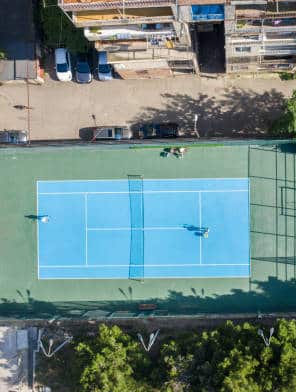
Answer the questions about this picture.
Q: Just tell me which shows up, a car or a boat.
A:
car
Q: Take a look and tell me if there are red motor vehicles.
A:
No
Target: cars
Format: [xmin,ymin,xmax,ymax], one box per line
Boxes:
[50,48,71,86]
[138,121,179,141]
[94,124,134,143]
[72,50,92,88]
[94,50,114,87]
